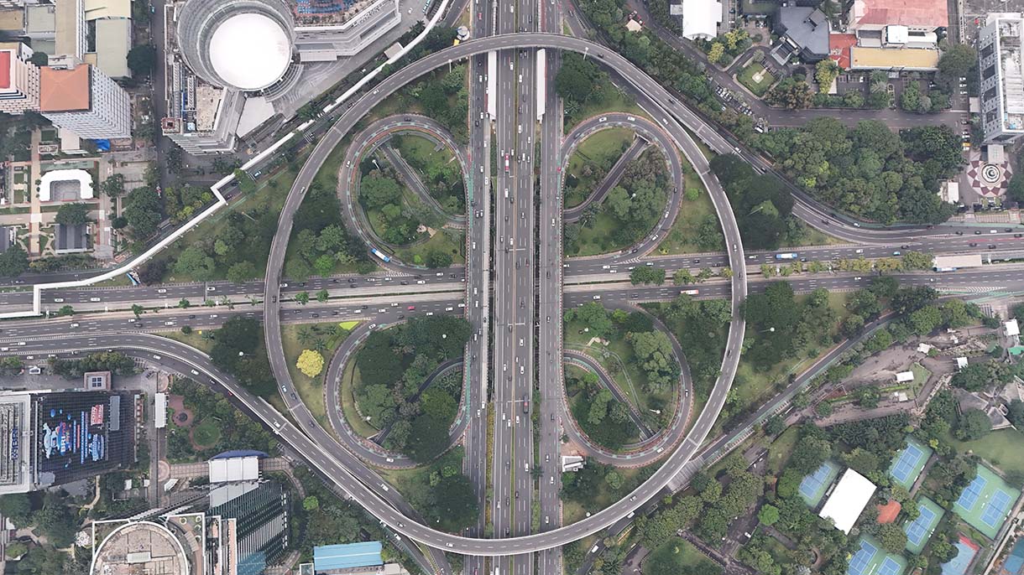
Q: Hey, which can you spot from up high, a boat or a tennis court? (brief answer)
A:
tennis court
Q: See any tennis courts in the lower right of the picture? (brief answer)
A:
Yes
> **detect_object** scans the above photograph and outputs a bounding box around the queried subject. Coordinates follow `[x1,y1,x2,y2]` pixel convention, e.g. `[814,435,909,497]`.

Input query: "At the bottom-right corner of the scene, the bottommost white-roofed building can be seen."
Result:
[816,467,878,535]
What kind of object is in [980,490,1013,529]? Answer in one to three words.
tennis court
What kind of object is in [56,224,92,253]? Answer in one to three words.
building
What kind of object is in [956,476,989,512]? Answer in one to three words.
tennis court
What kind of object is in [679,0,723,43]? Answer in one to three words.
building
